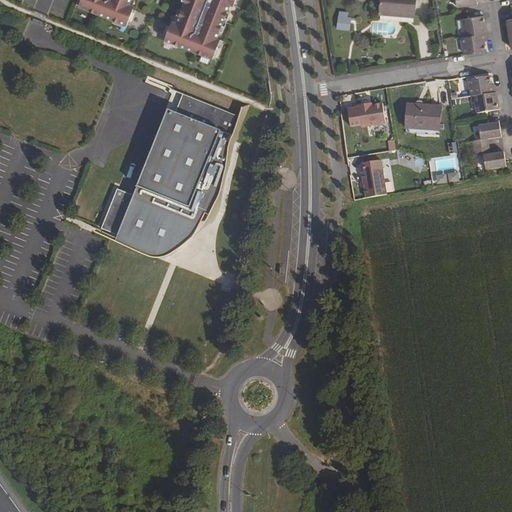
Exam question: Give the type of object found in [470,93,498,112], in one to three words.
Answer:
house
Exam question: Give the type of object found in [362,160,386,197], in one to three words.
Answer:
house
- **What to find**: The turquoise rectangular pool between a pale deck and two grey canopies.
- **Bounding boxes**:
[430,152,460,184]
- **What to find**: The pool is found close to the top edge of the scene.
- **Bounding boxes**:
[372,22,396,34]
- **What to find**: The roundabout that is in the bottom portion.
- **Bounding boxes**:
[223,360,296,432]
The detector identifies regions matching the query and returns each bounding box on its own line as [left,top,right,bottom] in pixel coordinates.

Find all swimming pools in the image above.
[430,152,460,184]
[372,22,396,34]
